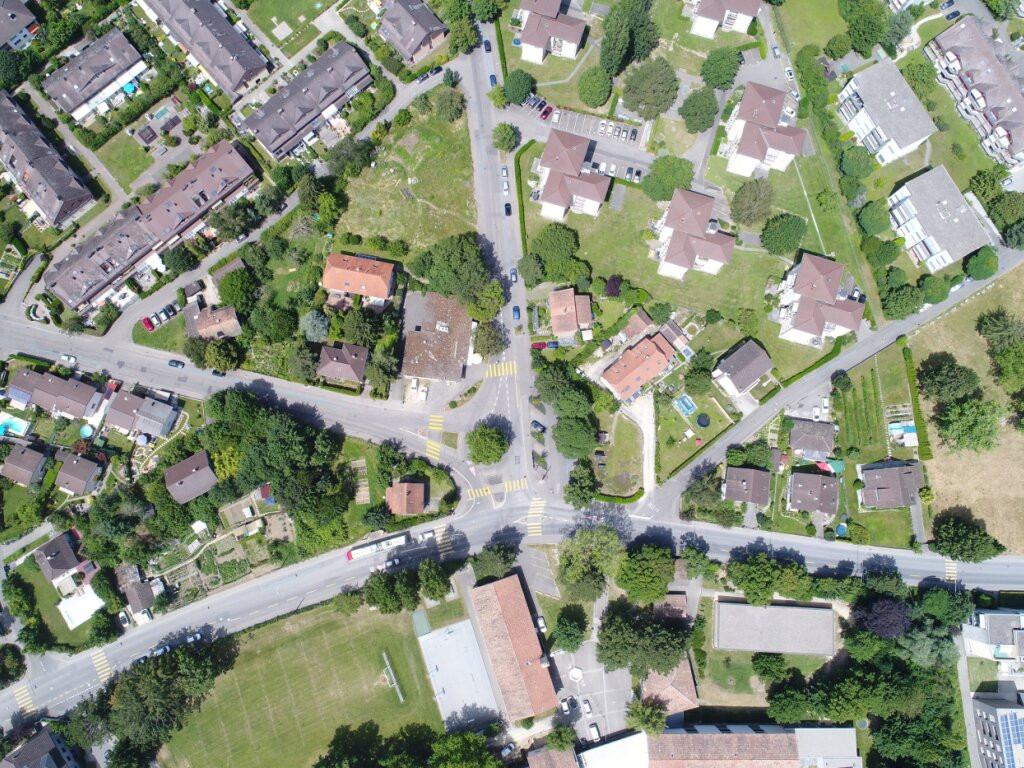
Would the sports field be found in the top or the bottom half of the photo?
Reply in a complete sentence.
Seen from above, the sports field lies in the bottom half of the view.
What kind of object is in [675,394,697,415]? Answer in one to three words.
swimming pool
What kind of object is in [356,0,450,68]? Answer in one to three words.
house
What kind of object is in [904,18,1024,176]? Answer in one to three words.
building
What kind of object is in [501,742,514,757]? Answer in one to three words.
vehicle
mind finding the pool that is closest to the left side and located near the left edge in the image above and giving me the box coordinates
[0,412,31,435]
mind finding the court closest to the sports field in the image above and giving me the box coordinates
[418,620,504,735]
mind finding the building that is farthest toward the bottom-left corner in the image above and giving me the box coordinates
[1,727,79,768]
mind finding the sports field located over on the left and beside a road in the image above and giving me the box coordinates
[161,601,444,768]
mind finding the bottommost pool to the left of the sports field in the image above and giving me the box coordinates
[66,584,102,613]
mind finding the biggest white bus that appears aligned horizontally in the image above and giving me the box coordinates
[346,536,411,560]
